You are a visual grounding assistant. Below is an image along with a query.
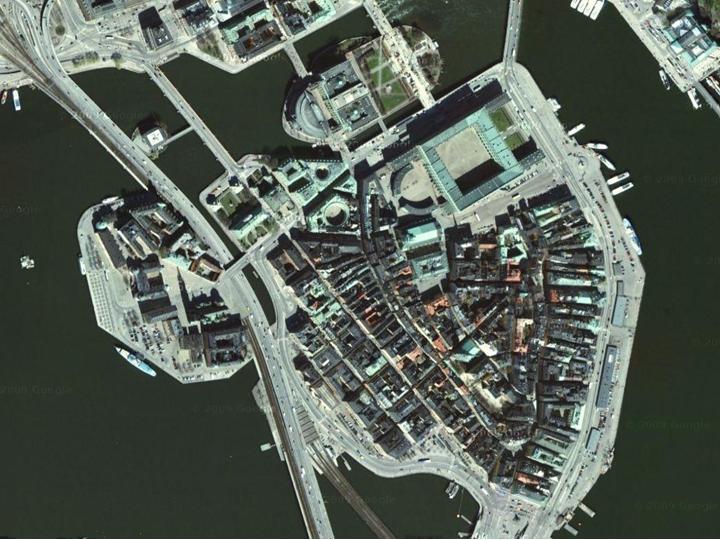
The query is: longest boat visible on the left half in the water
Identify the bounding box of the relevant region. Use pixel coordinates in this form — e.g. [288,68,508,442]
[114,346,158,378]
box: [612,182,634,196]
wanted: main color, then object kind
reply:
white boat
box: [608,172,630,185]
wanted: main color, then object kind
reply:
white boat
